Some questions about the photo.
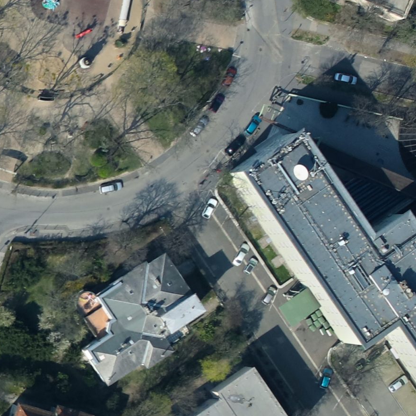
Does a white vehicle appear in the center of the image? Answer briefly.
Yes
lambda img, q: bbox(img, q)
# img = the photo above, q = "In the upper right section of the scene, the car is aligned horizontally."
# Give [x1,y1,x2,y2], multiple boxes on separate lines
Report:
[331,71,359,86]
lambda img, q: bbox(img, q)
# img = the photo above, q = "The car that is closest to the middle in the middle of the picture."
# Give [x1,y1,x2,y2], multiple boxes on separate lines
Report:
[199,195,220,221]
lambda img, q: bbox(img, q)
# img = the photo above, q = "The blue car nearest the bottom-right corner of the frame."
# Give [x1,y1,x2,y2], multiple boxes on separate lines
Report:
[318,366,333,391]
